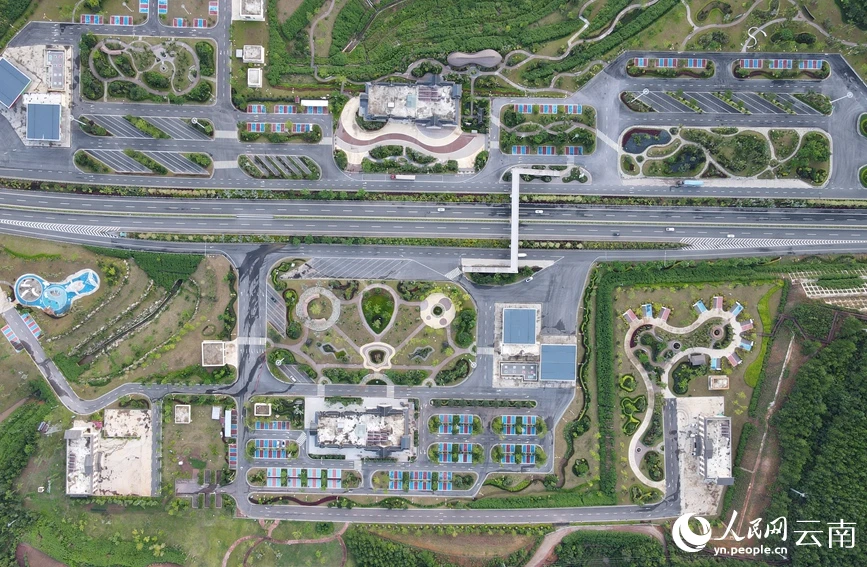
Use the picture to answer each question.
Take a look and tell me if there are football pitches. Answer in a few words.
No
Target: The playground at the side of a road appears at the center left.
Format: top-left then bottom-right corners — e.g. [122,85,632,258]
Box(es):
[14,268,100,317]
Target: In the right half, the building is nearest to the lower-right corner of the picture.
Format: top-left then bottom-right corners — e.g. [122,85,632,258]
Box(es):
[692,413,734,484]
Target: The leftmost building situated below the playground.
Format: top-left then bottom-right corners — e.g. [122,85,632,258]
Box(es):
[64,421,103,496]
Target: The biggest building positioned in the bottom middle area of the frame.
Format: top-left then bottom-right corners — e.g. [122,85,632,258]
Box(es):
[310,404,410,459]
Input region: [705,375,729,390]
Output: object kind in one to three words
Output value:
house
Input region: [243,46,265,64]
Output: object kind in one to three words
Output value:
house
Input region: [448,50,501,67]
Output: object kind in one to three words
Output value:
building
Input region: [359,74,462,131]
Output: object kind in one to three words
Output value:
building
